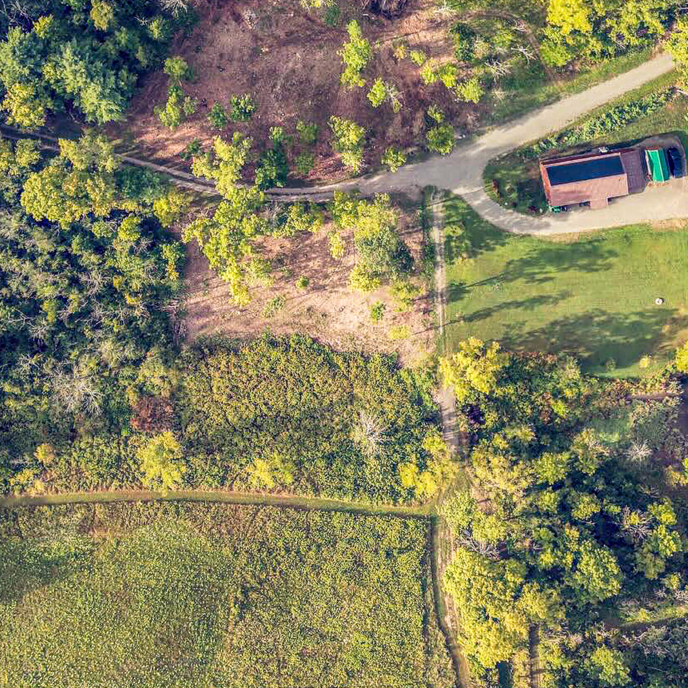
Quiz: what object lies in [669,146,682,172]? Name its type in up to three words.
vehicle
